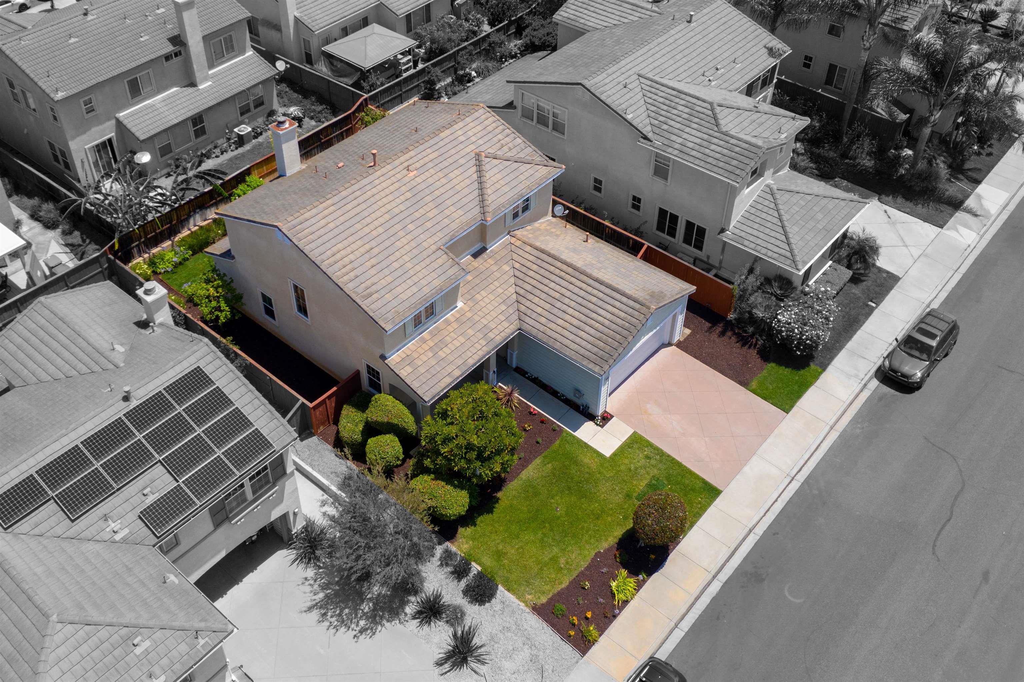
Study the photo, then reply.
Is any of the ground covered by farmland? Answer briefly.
No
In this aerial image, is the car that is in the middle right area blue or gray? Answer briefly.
gray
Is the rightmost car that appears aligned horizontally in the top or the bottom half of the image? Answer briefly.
bottom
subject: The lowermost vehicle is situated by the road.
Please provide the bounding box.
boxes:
[632,651,695,682]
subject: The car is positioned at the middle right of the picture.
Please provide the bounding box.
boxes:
[888,300,967,384]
